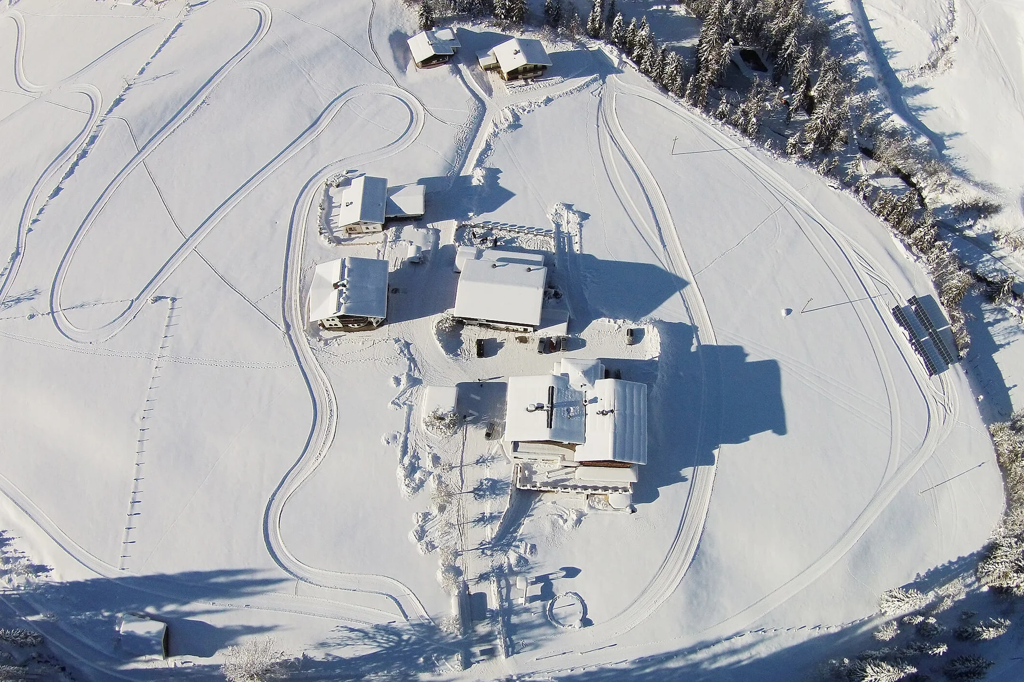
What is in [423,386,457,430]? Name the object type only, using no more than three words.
building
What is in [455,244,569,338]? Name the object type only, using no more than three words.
barn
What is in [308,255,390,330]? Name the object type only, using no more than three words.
house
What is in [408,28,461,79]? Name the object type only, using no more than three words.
house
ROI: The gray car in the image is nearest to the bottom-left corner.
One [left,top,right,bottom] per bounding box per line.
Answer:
[484,421,497,442]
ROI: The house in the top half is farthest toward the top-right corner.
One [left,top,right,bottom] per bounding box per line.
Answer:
[476,37,551,87]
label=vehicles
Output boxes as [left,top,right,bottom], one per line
[559,335,567,352]
[549,336,558,353]
[537,336,547,355]
[475,338,485,359]
[605,365,612,379]
[614,365,623,380]
[626,328,634,346]
[484,421,497,442]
